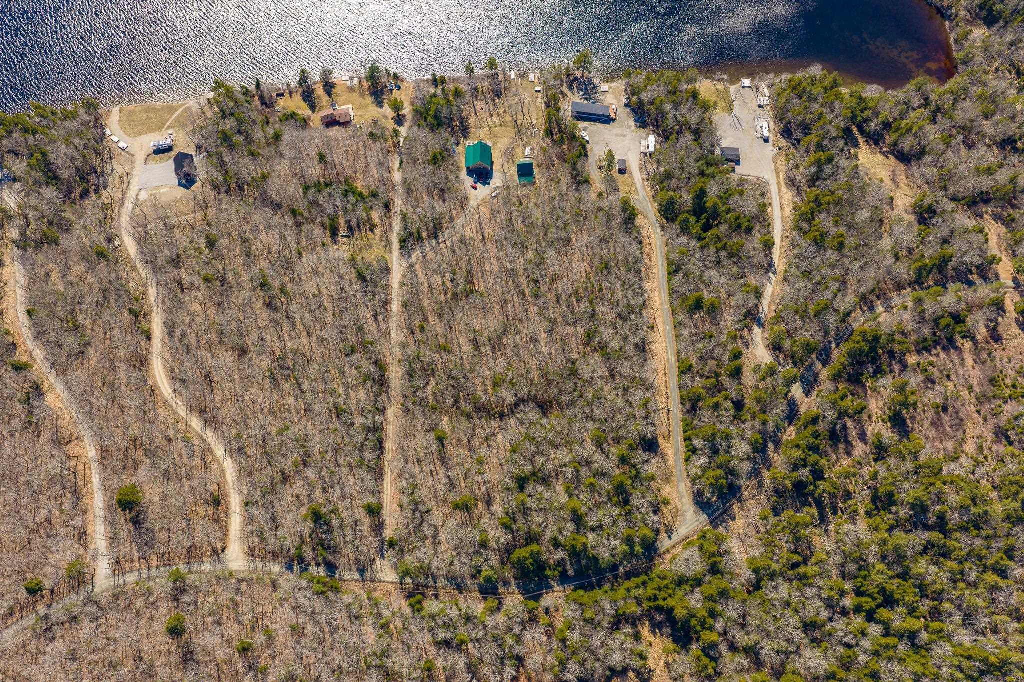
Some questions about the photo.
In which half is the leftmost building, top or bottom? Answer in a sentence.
The top half of the photo is where the leftmost building is.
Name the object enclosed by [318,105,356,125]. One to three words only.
building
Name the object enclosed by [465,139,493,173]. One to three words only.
house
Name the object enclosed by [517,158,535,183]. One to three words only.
shed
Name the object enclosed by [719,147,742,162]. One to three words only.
building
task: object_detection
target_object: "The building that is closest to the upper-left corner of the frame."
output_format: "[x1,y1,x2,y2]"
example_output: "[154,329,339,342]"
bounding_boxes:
[173,151,196,177]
